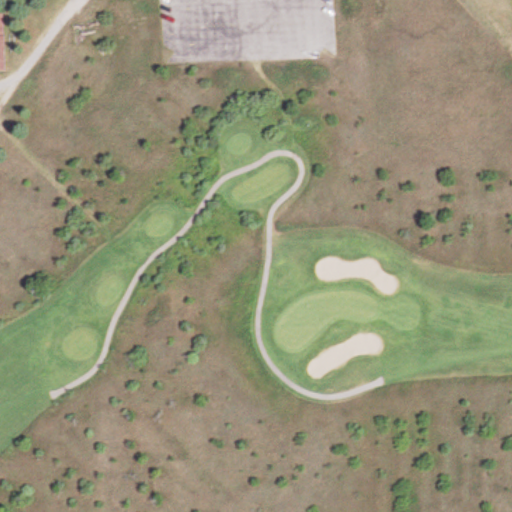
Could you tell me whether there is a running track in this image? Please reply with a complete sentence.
No, I can't see a single running track in this photo.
